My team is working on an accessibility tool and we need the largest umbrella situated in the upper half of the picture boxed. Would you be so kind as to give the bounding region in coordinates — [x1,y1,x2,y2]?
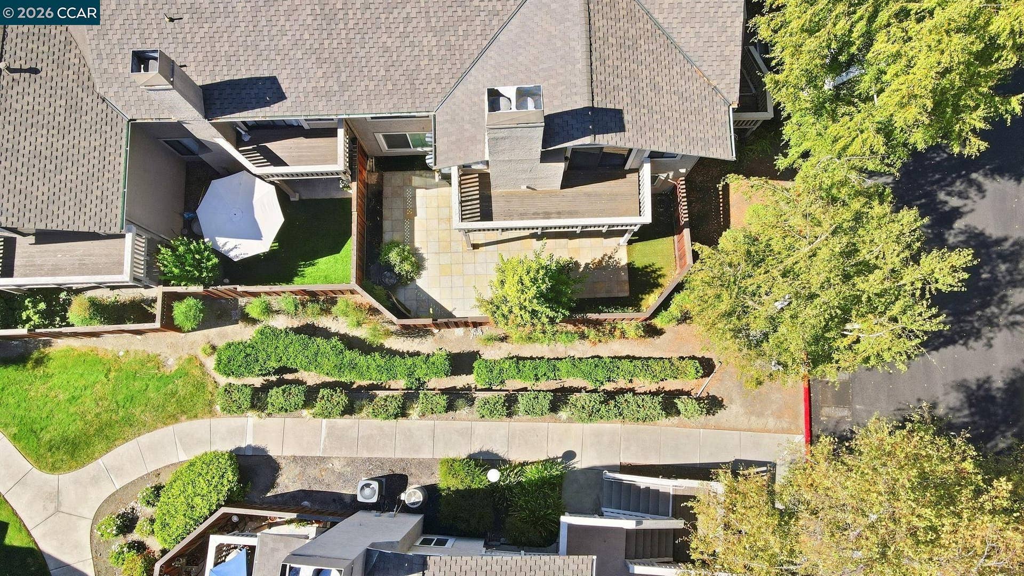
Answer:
[196,171,285,261]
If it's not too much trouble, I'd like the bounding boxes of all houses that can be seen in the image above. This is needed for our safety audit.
[205,472,733,576]
[93,0,771,250]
